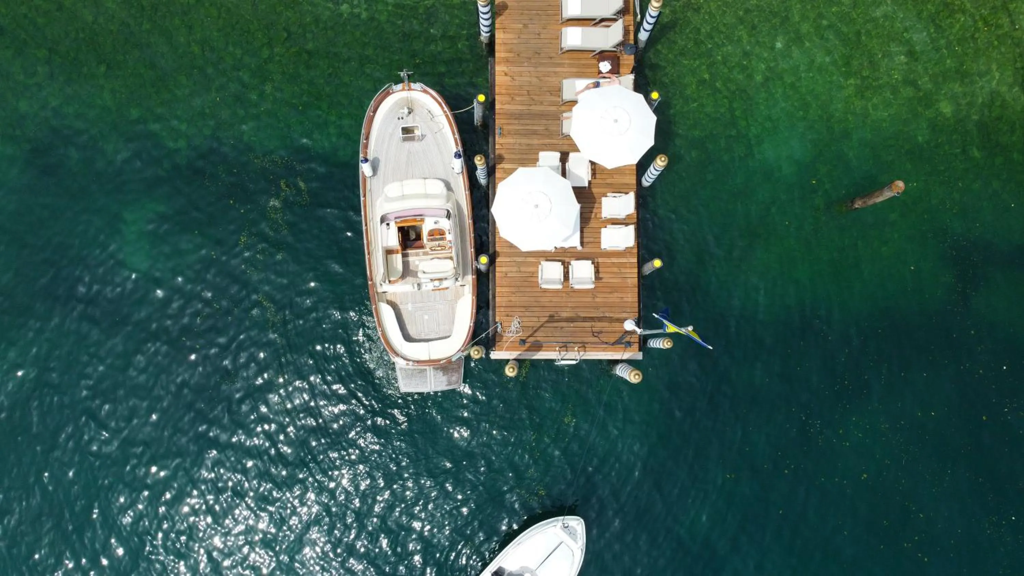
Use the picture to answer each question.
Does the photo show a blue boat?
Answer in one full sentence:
No, the photo shows no blue boat.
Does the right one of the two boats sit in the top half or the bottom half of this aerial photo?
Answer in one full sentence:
Seen from above, the right one of the two boats lies in the bottom half of the view.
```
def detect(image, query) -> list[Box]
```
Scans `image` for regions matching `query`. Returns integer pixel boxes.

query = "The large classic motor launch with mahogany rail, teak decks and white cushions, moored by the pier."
[360,68,478,392]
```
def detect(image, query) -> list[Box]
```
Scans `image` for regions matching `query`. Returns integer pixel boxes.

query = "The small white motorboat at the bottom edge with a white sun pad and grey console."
[478,515,586,576]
